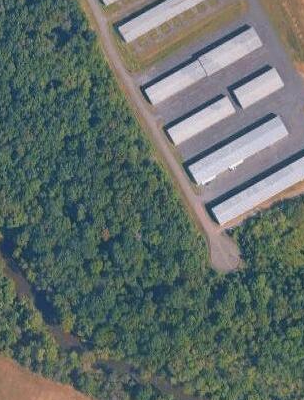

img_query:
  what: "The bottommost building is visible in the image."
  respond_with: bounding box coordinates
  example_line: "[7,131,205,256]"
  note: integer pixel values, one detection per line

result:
[212,157,304,225]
